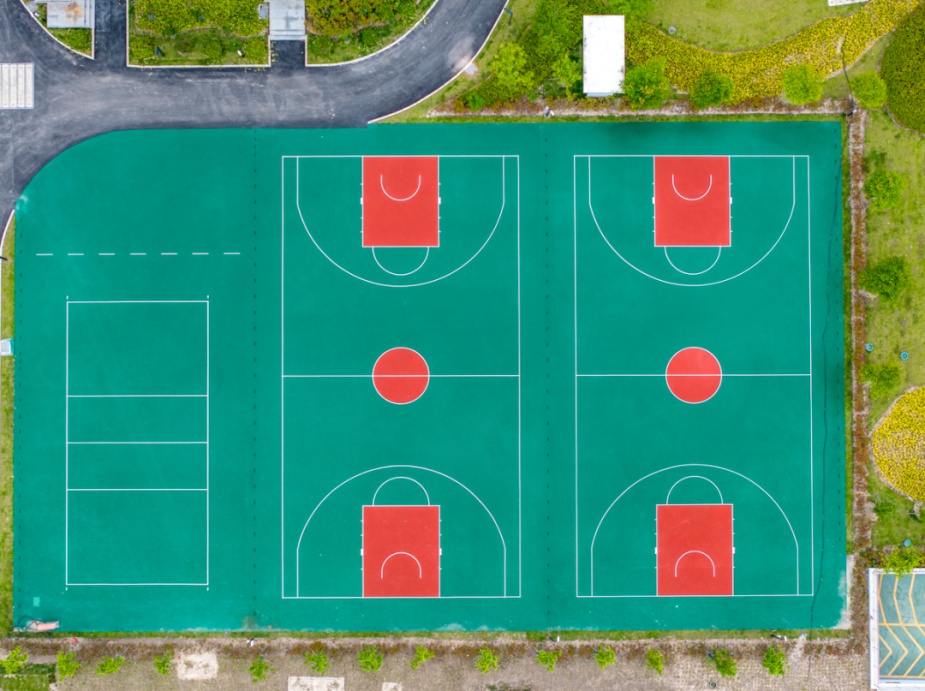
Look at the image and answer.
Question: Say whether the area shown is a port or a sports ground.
sports ground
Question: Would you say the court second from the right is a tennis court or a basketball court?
basketball court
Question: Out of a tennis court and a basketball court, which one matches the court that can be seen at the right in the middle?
basketball court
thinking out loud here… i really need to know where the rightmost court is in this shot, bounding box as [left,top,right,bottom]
[575,155,813,596]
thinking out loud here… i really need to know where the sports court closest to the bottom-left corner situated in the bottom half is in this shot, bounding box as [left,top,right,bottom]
[66,294,208,592]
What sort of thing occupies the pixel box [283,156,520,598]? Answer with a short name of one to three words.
basketball court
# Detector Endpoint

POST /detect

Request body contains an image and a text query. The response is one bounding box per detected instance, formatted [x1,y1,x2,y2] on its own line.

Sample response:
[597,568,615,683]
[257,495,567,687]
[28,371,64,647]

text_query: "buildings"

[583,14,625,101]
